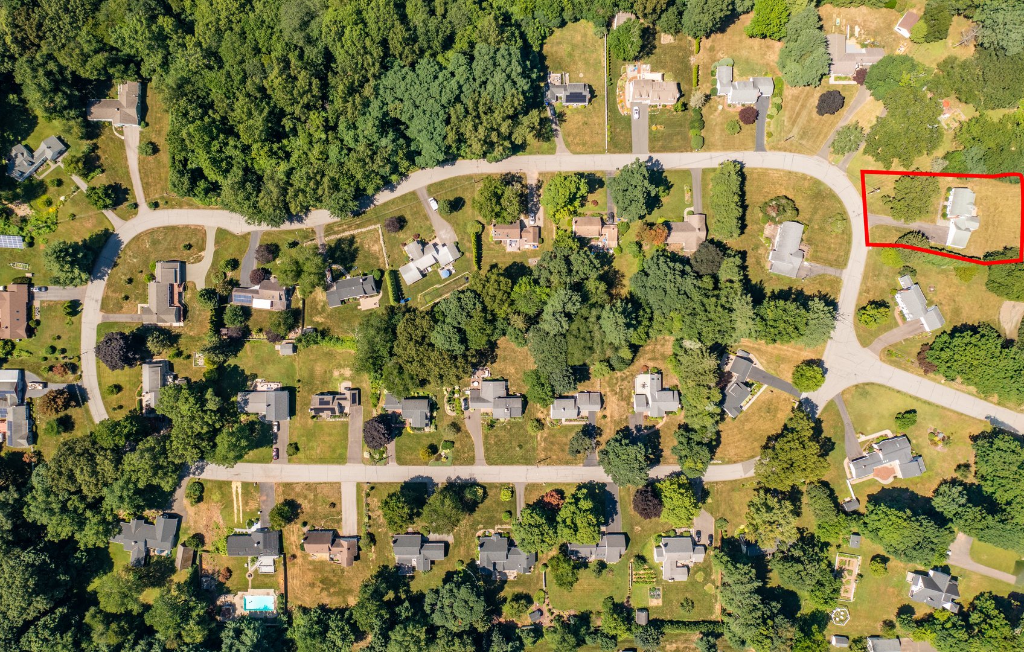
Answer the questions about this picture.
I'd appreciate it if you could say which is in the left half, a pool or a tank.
pool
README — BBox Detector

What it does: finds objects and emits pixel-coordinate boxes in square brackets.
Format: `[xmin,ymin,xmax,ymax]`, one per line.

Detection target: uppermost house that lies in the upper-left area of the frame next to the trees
[83,79,143,126]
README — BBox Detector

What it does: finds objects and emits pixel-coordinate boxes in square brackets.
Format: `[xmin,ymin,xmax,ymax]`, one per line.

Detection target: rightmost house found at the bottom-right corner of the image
[903,562,962,614]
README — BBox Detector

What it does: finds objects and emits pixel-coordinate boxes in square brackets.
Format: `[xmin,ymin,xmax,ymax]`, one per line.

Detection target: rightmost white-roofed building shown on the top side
[943,186,982,250]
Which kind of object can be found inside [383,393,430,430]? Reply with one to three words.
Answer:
house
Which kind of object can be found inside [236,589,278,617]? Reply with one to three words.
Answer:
swimming pool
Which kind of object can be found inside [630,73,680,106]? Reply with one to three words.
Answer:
house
